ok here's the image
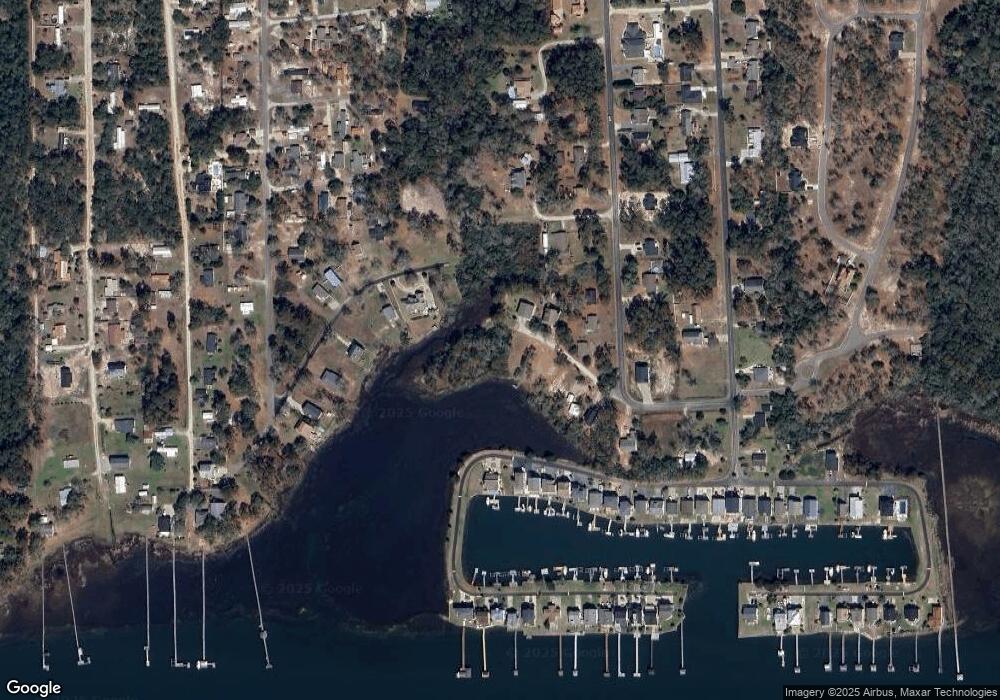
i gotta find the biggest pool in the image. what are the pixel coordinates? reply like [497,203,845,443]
[648,38,664,62]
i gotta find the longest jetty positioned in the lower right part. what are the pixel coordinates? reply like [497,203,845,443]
[937,405,964,680]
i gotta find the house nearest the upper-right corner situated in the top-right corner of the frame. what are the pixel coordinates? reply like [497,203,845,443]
[889,32,904,56]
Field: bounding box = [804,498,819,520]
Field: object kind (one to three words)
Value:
house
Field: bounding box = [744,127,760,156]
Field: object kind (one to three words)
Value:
building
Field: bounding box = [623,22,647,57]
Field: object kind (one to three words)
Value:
house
